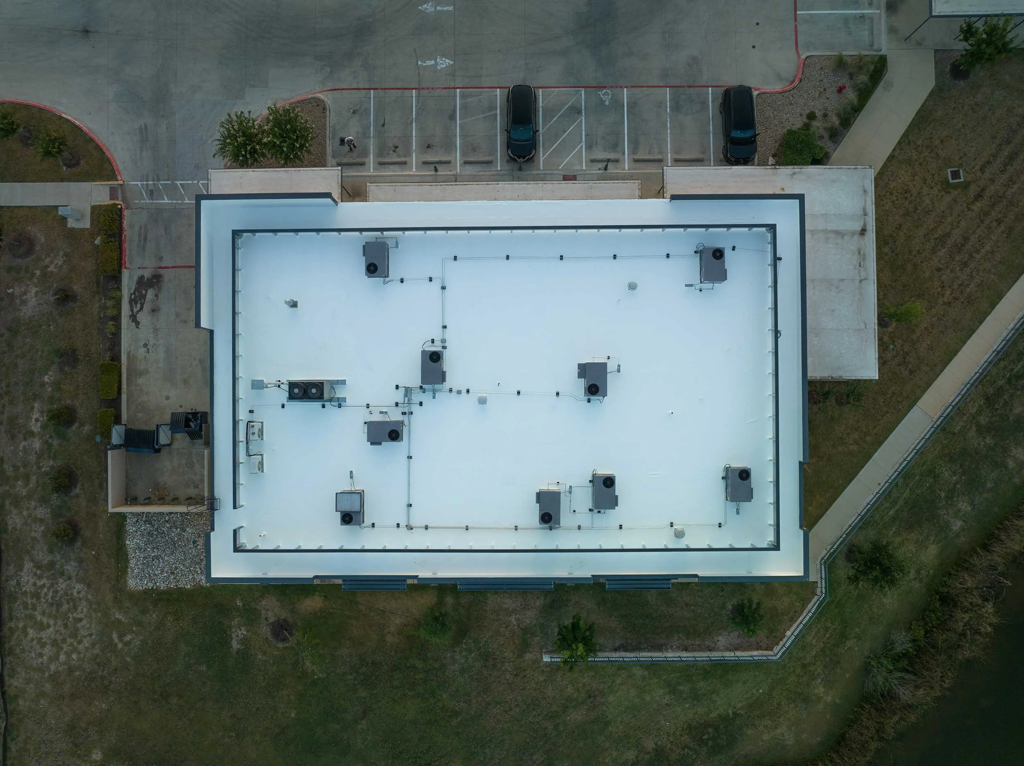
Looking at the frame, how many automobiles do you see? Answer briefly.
2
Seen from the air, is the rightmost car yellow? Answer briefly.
No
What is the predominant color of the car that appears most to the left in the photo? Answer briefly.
black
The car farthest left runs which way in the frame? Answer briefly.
vertically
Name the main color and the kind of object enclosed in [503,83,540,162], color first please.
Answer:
black car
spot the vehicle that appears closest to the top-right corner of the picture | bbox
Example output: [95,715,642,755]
[720,85,761,163]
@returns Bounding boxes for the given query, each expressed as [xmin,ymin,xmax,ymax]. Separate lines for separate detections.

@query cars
[720,85,761,163]
[503,83,540,162]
